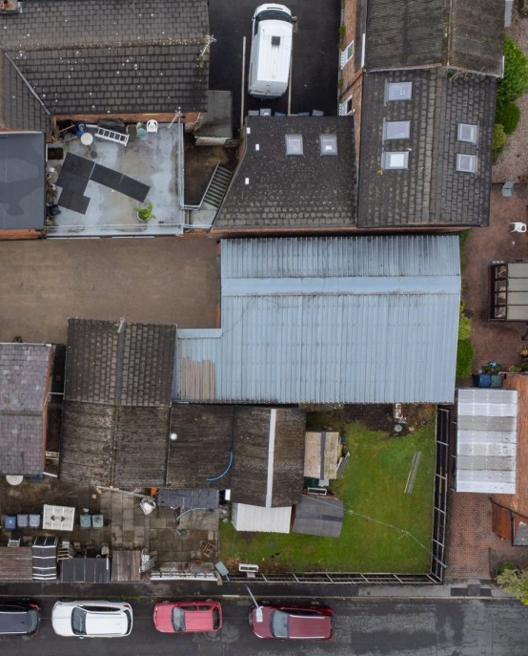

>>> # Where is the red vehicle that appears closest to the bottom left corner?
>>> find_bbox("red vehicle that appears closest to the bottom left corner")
[154,598,221,634]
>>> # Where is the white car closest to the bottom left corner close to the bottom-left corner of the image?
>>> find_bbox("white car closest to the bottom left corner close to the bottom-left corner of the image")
[54,598,132,637]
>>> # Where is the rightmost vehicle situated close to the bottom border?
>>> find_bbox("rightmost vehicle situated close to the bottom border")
[249,599,332,640]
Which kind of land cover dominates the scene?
buildings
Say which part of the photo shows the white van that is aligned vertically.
top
